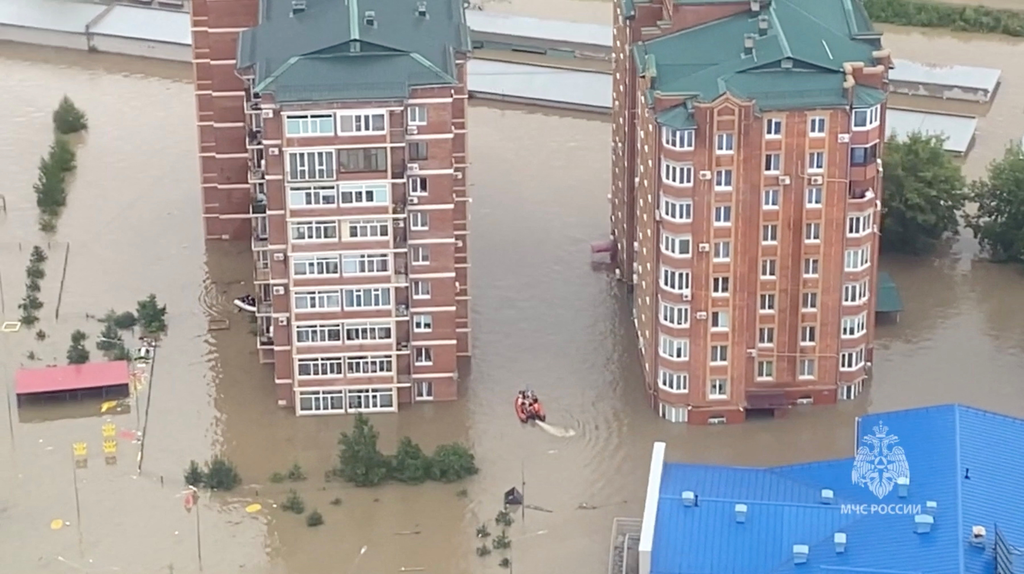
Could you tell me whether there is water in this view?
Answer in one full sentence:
Yes, some water is visible.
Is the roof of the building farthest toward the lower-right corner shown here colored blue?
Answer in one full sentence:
Yes, the roof of the building farthest toward the lower-right corner appears blue.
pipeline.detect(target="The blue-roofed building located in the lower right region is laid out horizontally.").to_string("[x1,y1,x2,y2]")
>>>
[639,401,1024,574]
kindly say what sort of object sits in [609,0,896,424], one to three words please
building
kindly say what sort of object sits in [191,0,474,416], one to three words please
building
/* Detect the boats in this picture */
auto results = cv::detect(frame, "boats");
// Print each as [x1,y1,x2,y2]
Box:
[235,294,257,317]
[516,387,548,424]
